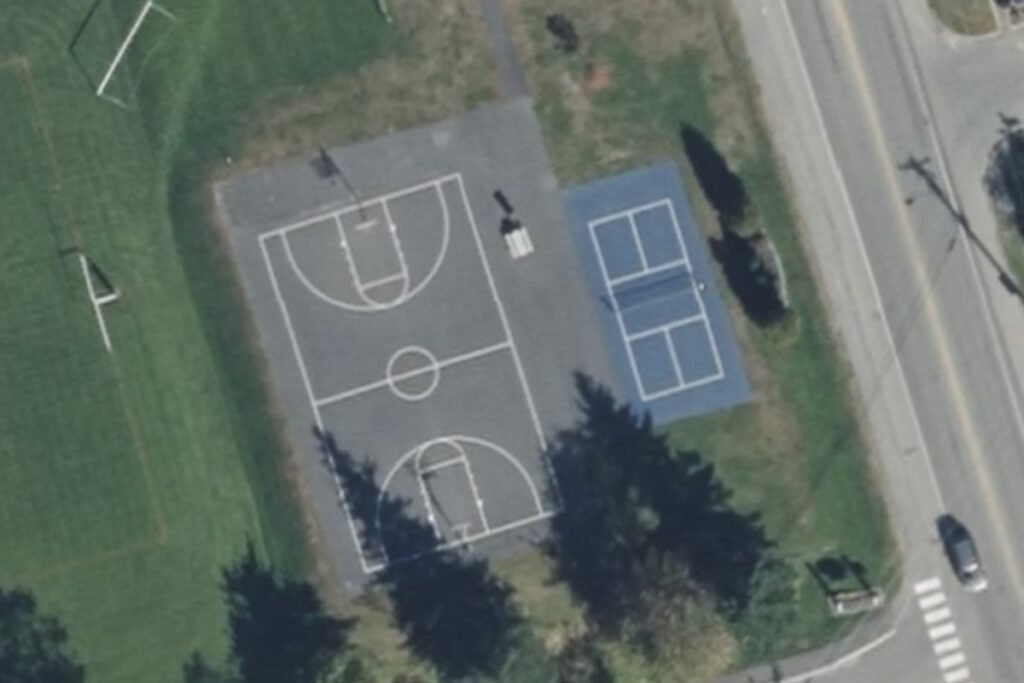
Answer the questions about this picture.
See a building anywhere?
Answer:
No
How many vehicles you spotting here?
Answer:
1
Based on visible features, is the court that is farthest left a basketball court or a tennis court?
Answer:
basketball court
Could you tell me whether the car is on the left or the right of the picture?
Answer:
right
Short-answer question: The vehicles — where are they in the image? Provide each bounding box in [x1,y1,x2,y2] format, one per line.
[947,529,986,593]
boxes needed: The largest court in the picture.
[215,98,646,598]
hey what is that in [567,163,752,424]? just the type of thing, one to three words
sports court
